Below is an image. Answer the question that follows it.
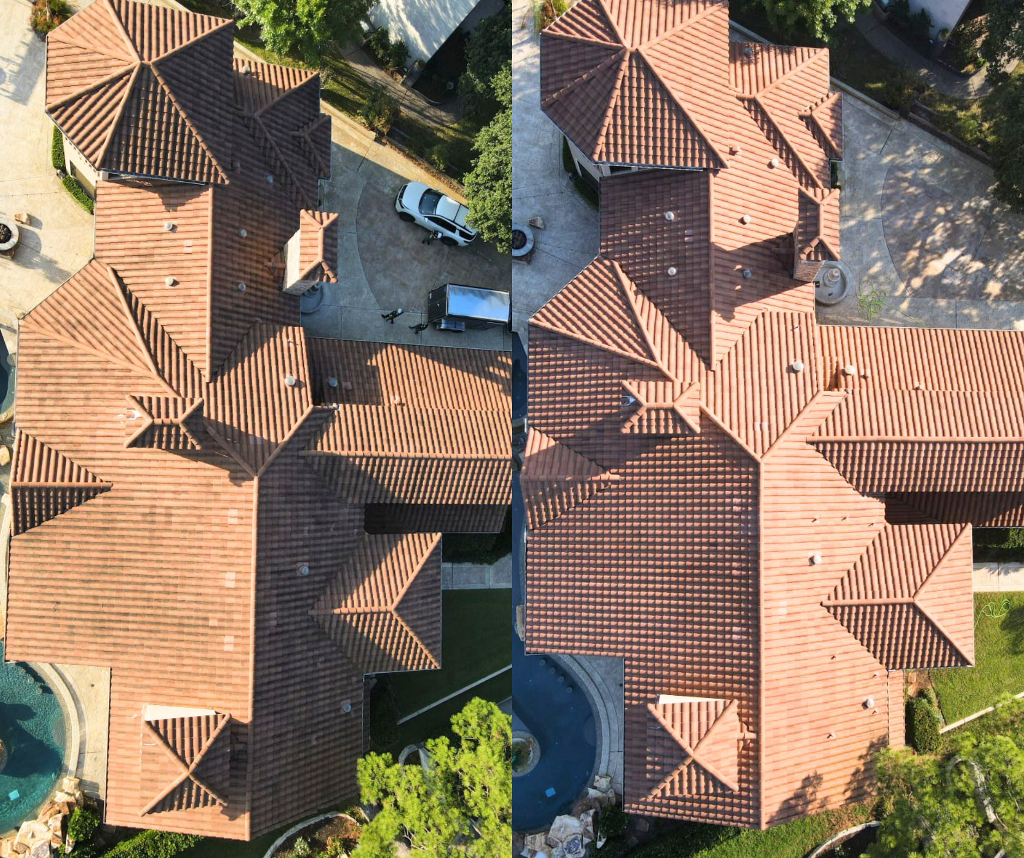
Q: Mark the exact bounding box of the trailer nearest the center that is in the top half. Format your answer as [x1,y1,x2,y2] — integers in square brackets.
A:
[414,278,509,326]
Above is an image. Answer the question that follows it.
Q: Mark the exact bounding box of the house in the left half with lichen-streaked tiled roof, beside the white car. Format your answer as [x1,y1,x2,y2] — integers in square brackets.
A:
[3,0,514,843]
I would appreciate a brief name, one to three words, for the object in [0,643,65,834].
swimming pool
